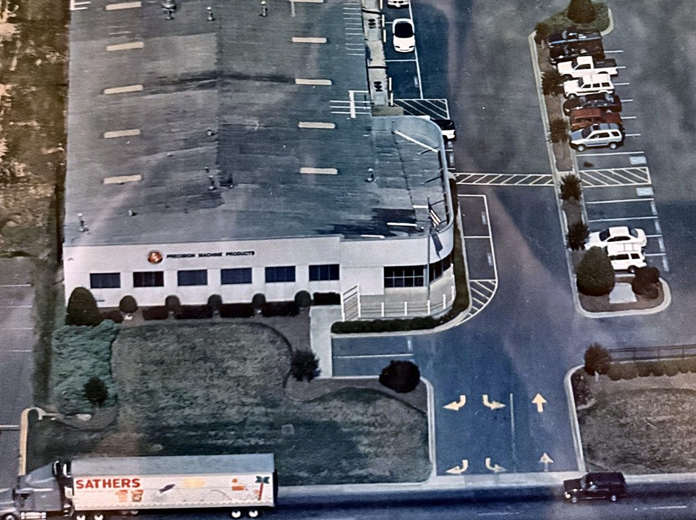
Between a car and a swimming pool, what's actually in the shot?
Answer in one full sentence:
Looking from above, you can make out a car.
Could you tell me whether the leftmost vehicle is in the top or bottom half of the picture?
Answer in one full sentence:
The leftmost vehicle sits in the bottom half of the picture.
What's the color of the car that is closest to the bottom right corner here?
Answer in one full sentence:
From above, the car that is closest to the bottom right corner appears black.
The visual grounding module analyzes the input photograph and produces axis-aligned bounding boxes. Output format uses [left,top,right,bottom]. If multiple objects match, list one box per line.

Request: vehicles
[413,115,455,139]
[548,40,604,66]
[562,466,626,502]
[568,124,623,151]
[605,245,646,271]
[546,27,601,49]
[0,457,104,518]
[555,58,617,82]
[390,21,413,49]
[562,73,615,99]
[561,94,621,114]
[585,228,647,250]
[567,108,622,133]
